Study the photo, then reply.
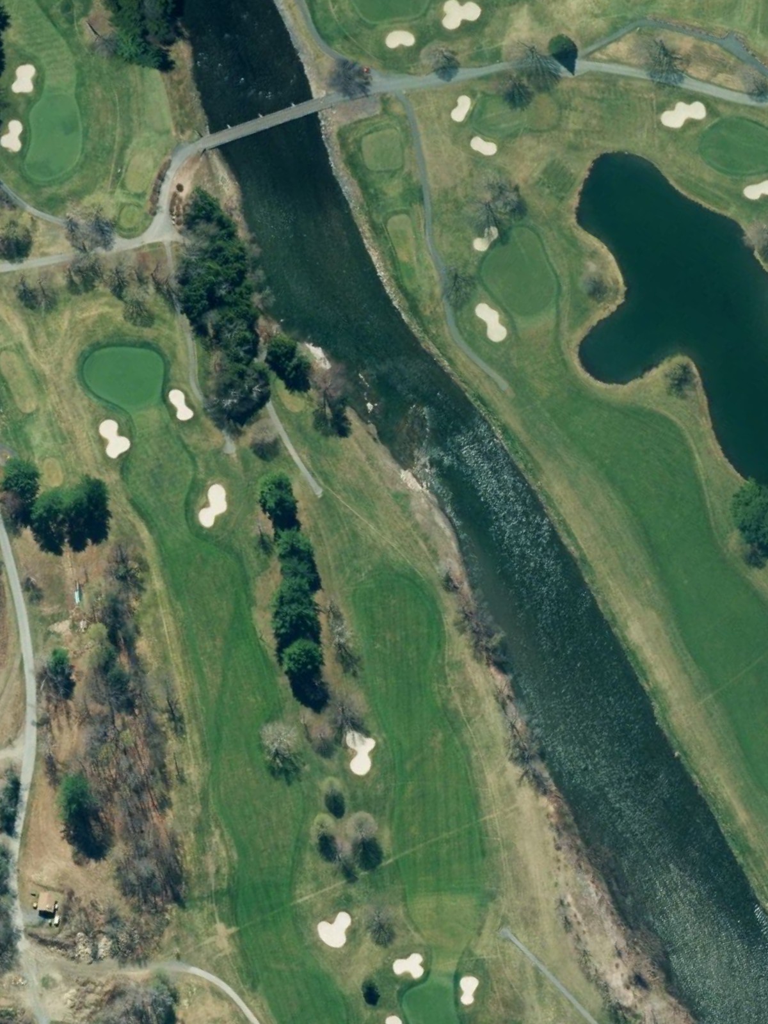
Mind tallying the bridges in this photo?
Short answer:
one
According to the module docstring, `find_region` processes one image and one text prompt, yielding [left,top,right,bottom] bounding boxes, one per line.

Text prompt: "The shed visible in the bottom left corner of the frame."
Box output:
[36,892,55,913]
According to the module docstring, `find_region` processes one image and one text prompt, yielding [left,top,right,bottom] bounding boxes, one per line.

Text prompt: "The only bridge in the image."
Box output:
[194,86,347,153]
